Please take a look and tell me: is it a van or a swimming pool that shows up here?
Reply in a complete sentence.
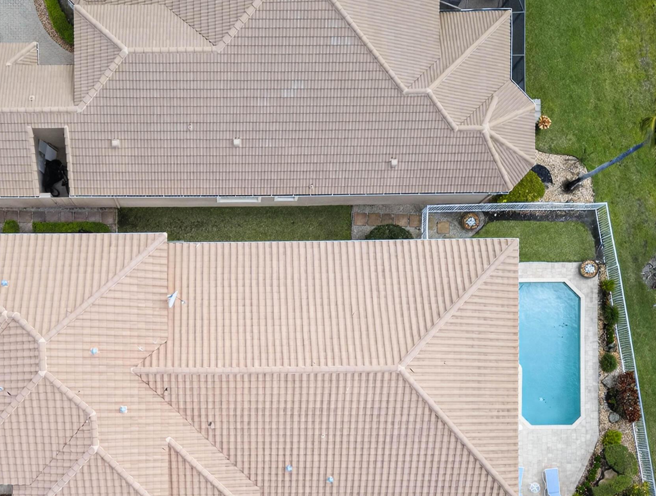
This aerial view contains a swimming pool.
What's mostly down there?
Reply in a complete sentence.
The bulk of the photo consists of buildings.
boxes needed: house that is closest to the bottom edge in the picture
[0,230,522,496]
